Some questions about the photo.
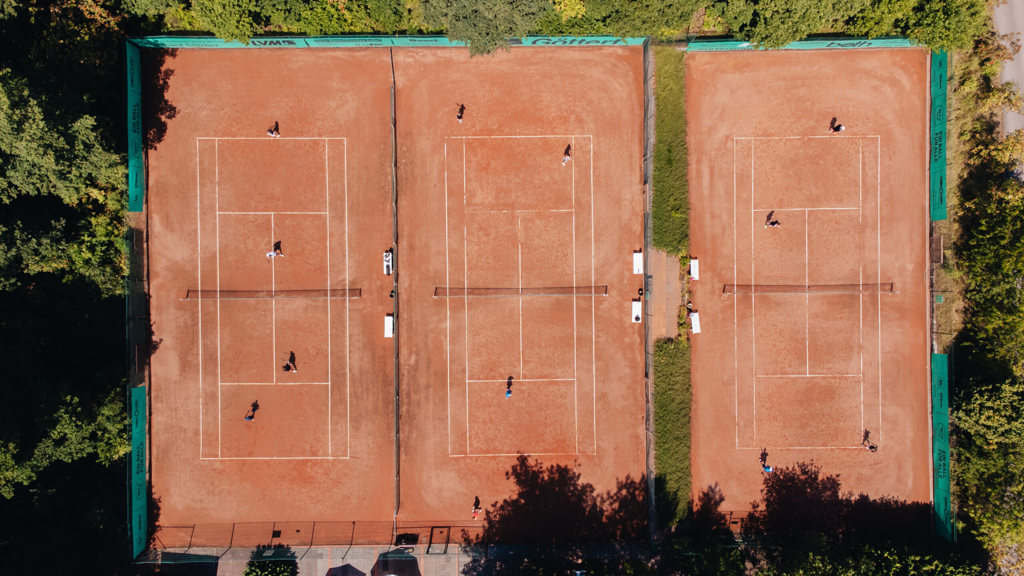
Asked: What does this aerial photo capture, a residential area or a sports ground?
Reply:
sports ground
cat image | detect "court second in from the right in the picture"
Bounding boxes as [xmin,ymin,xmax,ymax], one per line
[394,46,648,545]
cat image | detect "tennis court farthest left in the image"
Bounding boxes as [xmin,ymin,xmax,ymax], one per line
[148,47,397,547]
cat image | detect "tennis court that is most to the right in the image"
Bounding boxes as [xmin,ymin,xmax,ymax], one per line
[687,50,931,537]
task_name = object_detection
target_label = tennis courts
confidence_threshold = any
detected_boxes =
[148,47,397,547]
[394,46,648,545]
[687,50,931,537]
